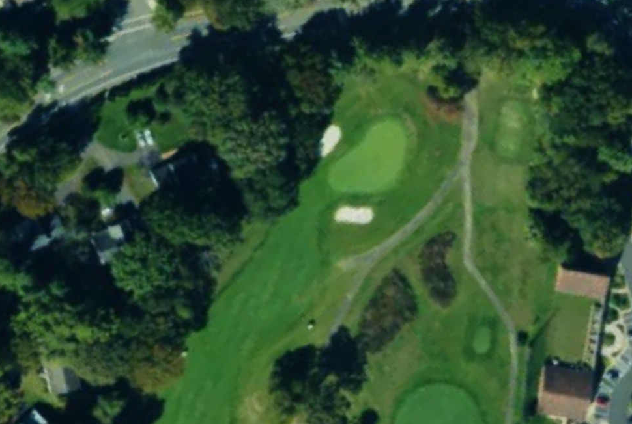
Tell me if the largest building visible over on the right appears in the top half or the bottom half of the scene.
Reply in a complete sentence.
The bottom half of the photo is where the largest building visible over on the right is.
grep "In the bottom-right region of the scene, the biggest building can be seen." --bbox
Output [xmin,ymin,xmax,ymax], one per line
[536,361,596,419]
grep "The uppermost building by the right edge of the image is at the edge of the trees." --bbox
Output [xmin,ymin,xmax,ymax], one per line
[556,265,611,301]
